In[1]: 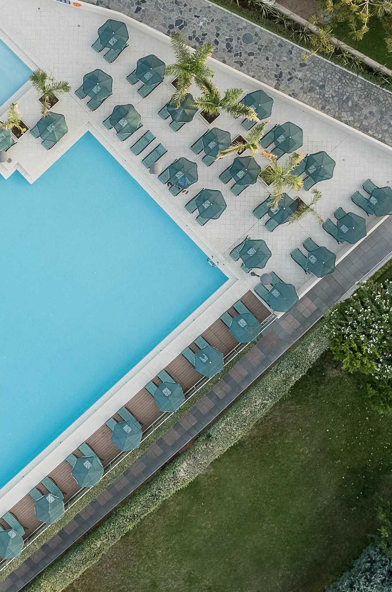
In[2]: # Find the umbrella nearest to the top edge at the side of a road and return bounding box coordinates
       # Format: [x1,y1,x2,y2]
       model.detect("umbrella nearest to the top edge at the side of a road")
[94,19,128,52]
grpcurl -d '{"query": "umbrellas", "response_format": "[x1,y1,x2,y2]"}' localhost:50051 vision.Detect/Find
[132,55,164,87]
[238,237,272,269]
[36,492,68,523]
[79,68,112,99]
[335,210,368,242]
[364,182,392,213]
[166,93,198,126]
[190,188,224,221]
[163,156,196,189]
[197,347,228,378]
[37,112,70,146]
[200,124,232,156]
[268,283,300,316]
[94,19,128,52]
[111,416,142,447]
[272,124,303,155]
[229,312,261,345]
[75,451,107,484]
[153,379,186,411]
[230,154,262,185]
[306,151,338,184]
[306,245,337,276]
[111,104,142,136]
[0,527,24,559]
[245,87,276,120]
